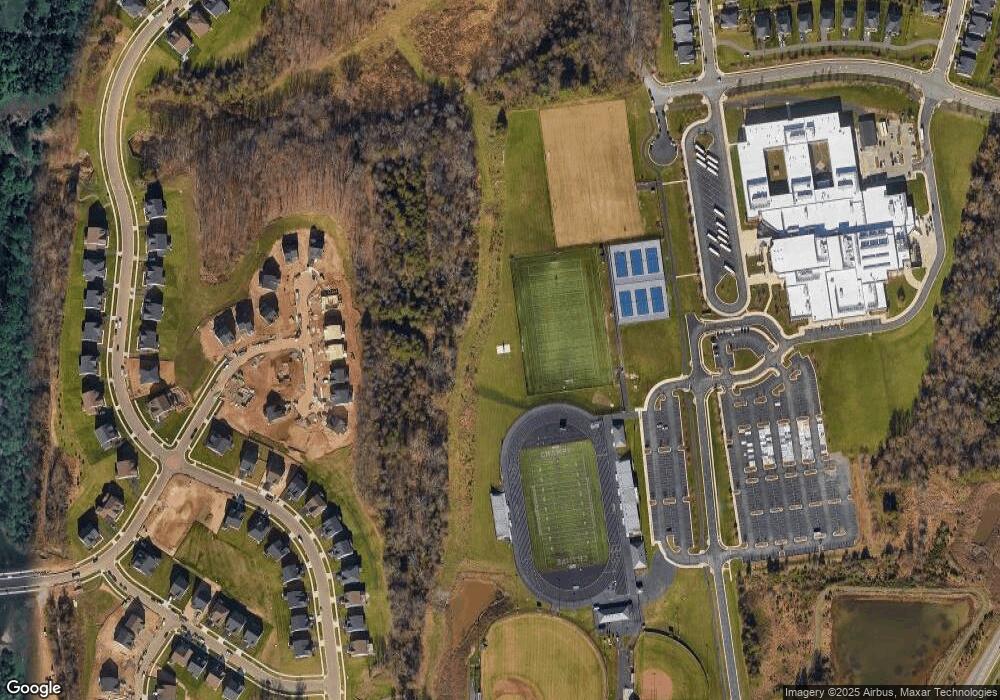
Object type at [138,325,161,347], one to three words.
house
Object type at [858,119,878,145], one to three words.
shed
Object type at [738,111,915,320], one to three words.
building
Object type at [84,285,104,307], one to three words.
house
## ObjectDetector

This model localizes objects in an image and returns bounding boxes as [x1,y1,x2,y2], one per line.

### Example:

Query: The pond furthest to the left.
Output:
[831,597,969,700]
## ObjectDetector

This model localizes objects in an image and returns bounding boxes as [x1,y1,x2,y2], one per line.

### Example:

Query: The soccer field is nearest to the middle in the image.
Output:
[512,247,614,394]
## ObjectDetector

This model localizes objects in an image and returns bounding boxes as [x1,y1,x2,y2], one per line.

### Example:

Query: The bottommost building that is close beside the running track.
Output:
[596,603,631,624]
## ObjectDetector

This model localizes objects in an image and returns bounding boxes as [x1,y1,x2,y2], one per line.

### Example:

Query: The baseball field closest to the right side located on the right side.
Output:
[634,630,708,700]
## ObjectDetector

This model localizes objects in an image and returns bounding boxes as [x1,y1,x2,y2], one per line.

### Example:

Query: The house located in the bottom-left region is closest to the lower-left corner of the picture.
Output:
[99,672,119,690]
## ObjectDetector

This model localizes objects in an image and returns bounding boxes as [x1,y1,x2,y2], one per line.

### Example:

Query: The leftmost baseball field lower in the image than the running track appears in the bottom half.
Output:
[476,613,611,700]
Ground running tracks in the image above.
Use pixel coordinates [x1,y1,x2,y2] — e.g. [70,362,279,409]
[505,404,627,609]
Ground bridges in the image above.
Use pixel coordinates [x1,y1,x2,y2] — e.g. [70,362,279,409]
[0,569,49,594]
